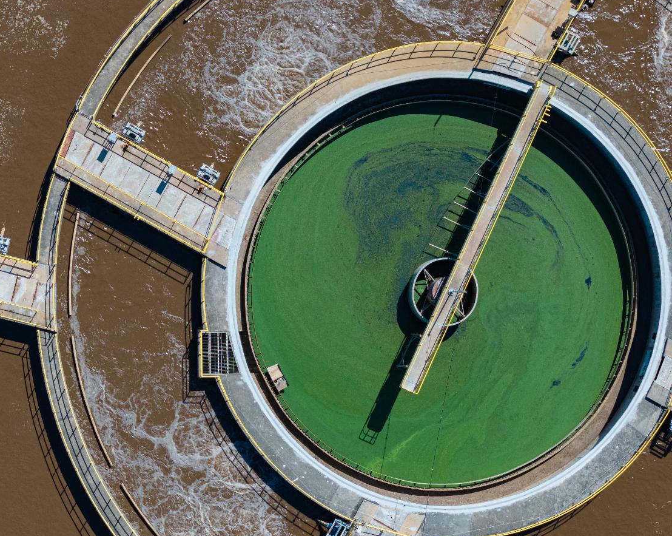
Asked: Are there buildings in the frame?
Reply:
No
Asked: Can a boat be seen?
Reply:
No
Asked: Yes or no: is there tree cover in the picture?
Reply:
No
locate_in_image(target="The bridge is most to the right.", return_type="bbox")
[645,340,672,413]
